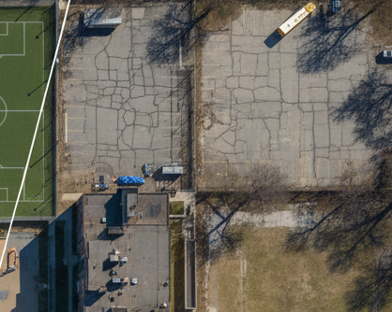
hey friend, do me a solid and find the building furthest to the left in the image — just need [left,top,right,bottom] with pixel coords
[77,188,170,312]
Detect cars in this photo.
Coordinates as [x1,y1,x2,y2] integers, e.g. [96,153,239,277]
[93,179,112,190]
[381,48,392,58]
[329,0,340,13]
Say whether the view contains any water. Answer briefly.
No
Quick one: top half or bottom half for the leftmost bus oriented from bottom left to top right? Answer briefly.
top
